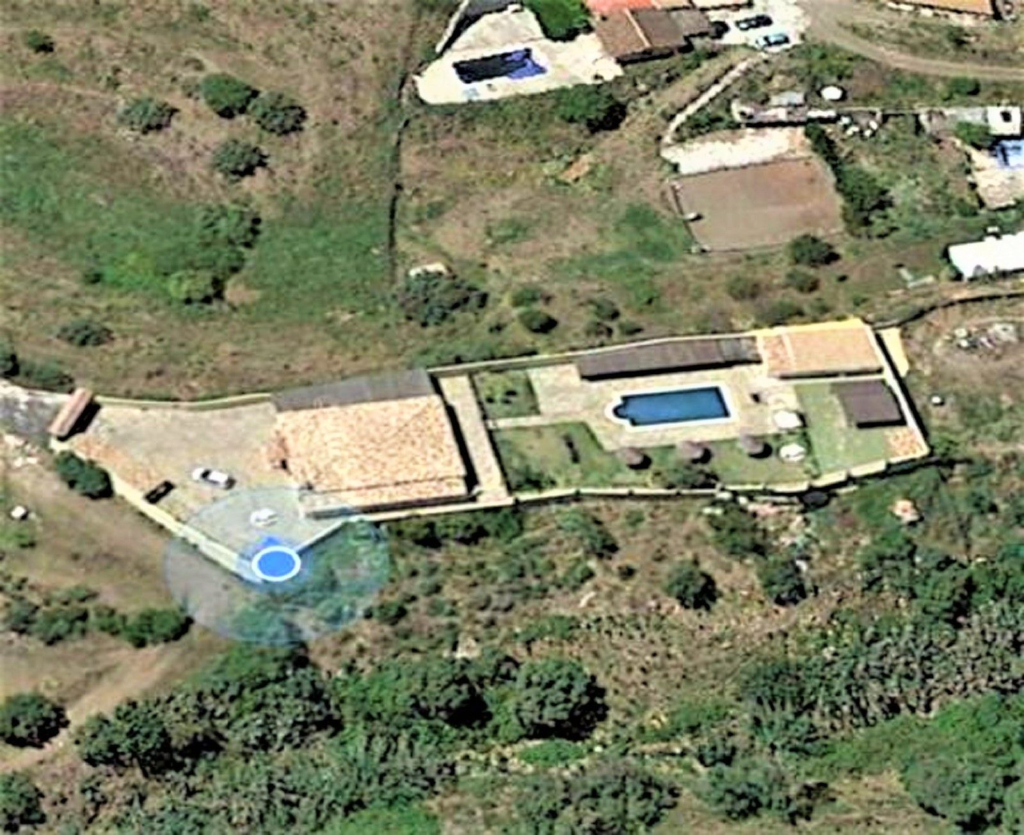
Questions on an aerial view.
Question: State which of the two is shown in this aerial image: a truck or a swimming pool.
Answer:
swimming pool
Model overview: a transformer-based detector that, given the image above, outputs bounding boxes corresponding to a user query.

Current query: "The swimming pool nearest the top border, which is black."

[453,49,535,84]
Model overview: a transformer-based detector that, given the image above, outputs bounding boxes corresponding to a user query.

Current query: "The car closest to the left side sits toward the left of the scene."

[142,475,178,508]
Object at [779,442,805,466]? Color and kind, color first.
white umbrella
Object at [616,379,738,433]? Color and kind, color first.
blue swimming pool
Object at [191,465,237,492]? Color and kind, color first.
white car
